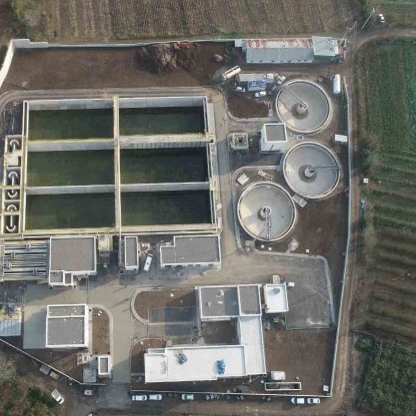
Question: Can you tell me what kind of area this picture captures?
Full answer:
This image shows an industrial area.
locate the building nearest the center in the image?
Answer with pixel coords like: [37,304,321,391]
[160,236,221,268]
